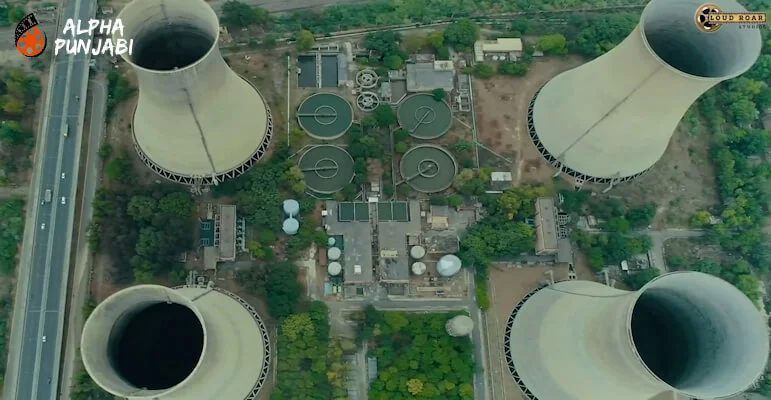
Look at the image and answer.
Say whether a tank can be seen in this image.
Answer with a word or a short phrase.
Yes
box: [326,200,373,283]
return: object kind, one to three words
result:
house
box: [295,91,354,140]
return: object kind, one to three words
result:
storage tank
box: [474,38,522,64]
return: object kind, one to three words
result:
building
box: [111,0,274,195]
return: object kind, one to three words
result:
cooling tower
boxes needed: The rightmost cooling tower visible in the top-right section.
[527,0,763,193]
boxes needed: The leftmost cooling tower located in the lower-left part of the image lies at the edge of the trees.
[78,272,272,400]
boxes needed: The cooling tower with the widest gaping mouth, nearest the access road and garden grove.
[503,267,769,400]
